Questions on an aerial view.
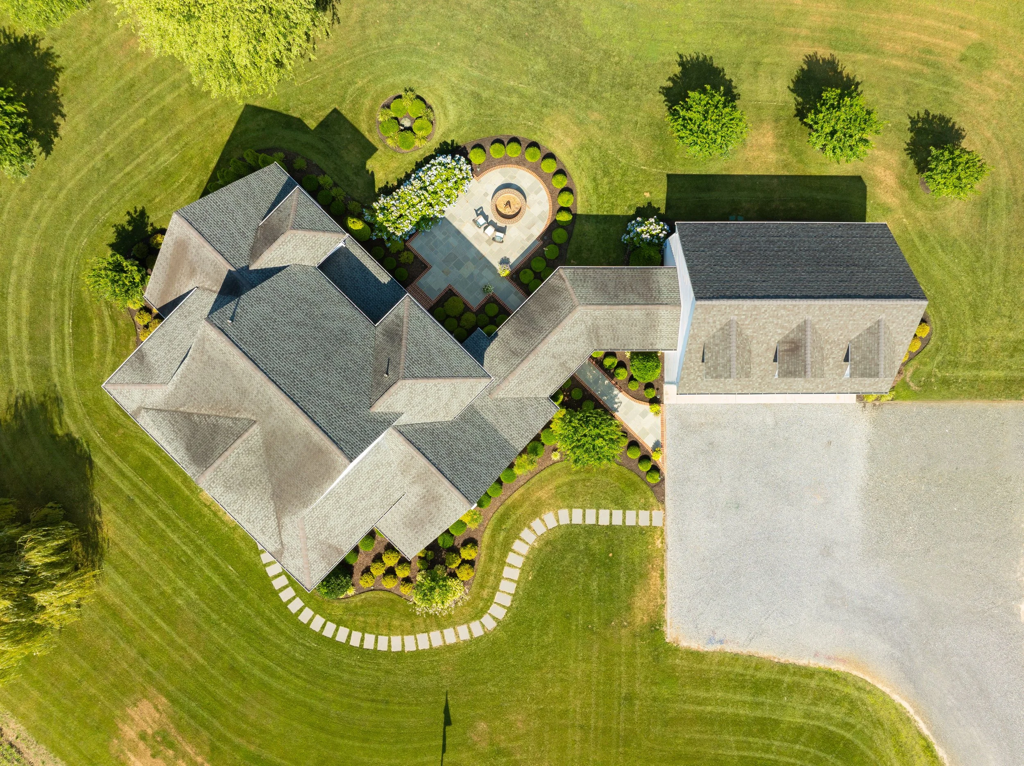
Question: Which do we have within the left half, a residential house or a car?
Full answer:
It is a residential house that can be seen within the left half.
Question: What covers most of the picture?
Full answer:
What you mostly see from above here is grass.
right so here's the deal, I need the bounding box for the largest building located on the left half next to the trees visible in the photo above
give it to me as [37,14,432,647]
[100,162,561,594]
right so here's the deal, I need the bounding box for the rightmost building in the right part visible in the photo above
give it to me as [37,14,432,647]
[664,220,929,396]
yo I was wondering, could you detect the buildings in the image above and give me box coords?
[664,220,929,396]
[100,162,561,594]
